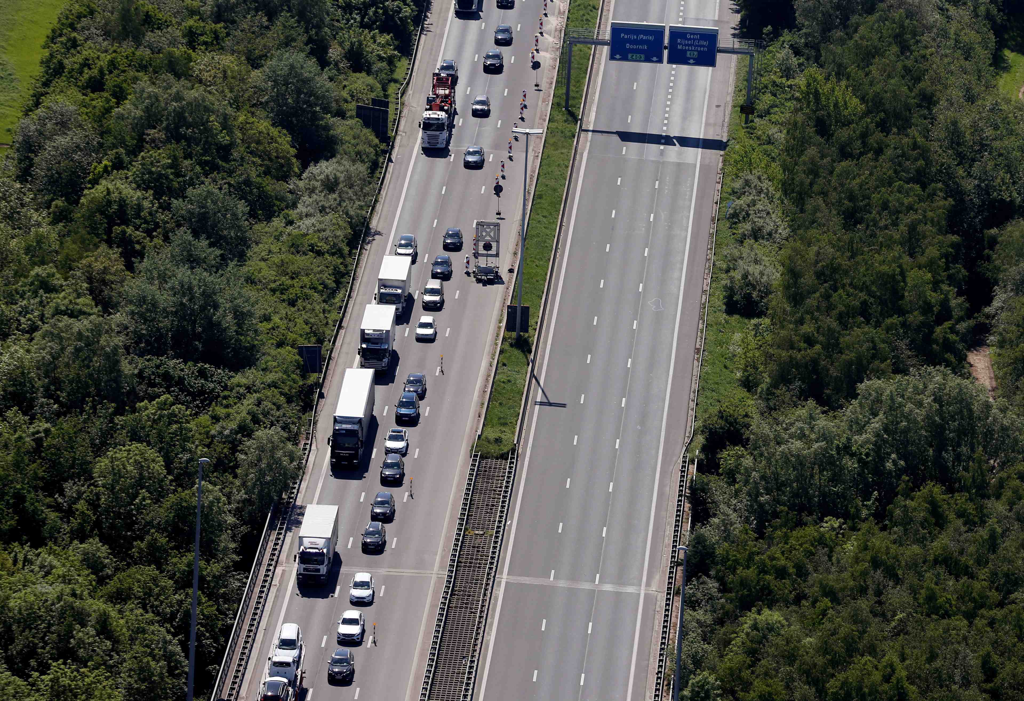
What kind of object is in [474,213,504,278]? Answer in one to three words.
trailer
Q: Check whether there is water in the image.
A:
No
